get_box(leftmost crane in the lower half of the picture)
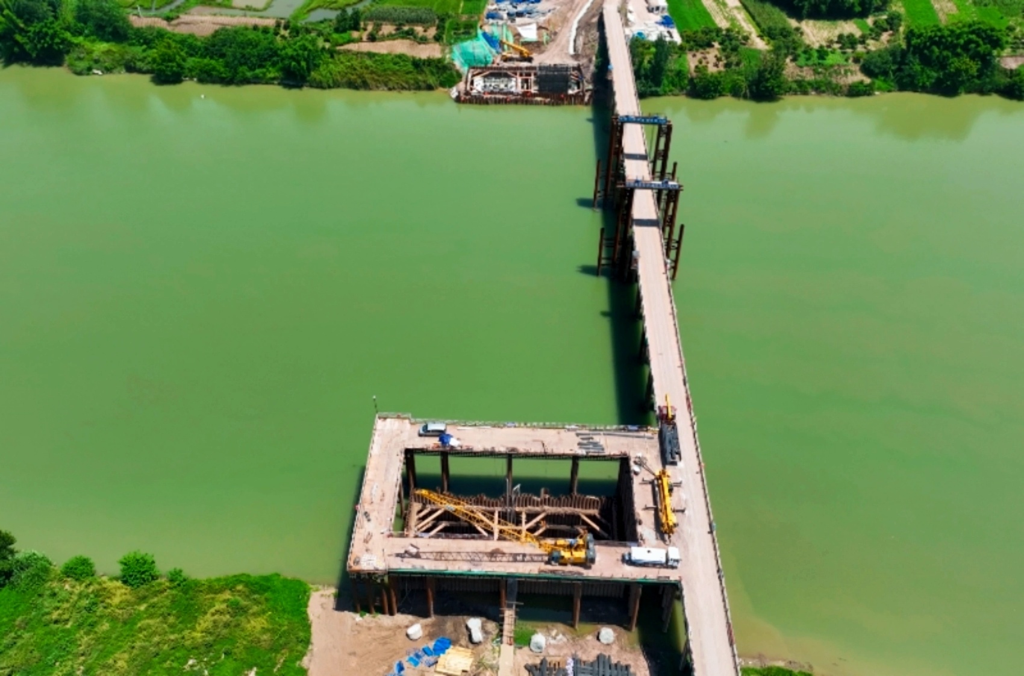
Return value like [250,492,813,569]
[414,485,598,570]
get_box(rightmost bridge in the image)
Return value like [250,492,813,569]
[604,7,746,676]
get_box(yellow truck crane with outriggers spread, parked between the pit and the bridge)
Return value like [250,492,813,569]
[641,466,688,541]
